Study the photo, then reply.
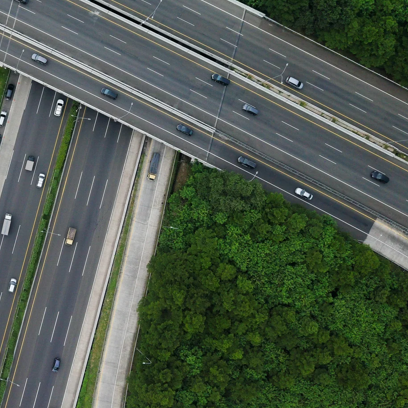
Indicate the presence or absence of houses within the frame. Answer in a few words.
No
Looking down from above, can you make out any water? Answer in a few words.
No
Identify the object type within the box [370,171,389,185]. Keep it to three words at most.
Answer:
vehicle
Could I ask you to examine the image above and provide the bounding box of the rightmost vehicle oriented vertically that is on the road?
[147,151,160,181]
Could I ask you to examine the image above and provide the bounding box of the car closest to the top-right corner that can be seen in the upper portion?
[285,76,303,89]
